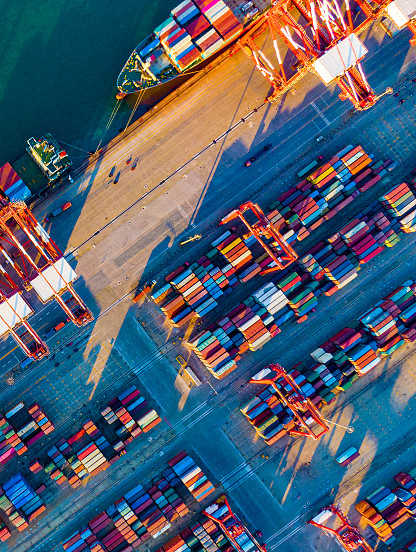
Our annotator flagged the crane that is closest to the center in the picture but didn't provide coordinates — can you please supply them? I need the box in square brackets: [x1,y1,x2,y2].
[211,203,298,279]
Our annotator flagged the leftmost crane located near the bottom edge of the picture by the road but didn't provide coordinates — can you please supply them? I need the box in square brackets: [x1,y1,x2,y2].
[197,491,271,552]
